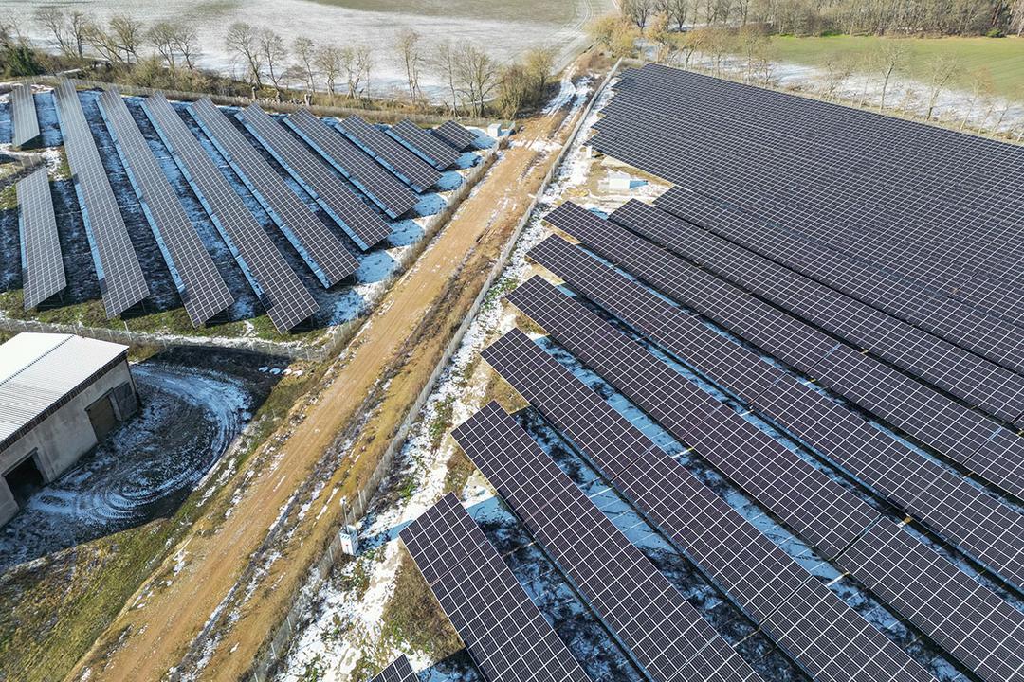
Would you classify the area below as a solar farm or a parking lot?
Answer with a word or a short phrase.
solar farm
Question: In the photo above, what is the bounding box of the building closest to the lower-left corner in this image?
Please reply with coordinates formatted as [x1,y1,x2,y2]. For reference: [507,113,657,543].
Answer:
[0,325,147,523]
